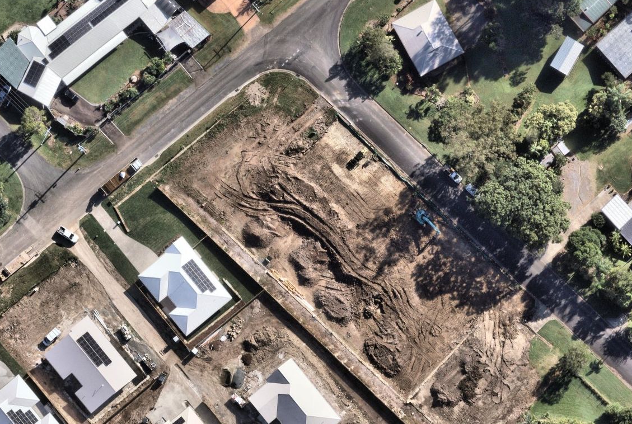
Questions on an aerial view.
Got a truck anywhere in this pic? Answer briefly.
Yes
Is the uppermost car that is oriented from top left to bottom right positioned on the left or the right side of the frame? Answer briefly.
left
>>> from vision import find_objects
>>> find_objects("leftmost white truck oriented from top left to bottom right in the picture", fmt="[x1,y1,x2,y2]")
[54,222,81,248]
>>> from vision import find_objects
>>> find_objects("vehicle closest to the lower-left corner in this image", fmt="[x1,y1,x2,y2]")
[38,324,65,349]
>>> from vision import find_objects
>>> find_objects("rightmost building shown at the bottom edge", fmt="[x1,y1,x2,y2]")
[248,358,341,424]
